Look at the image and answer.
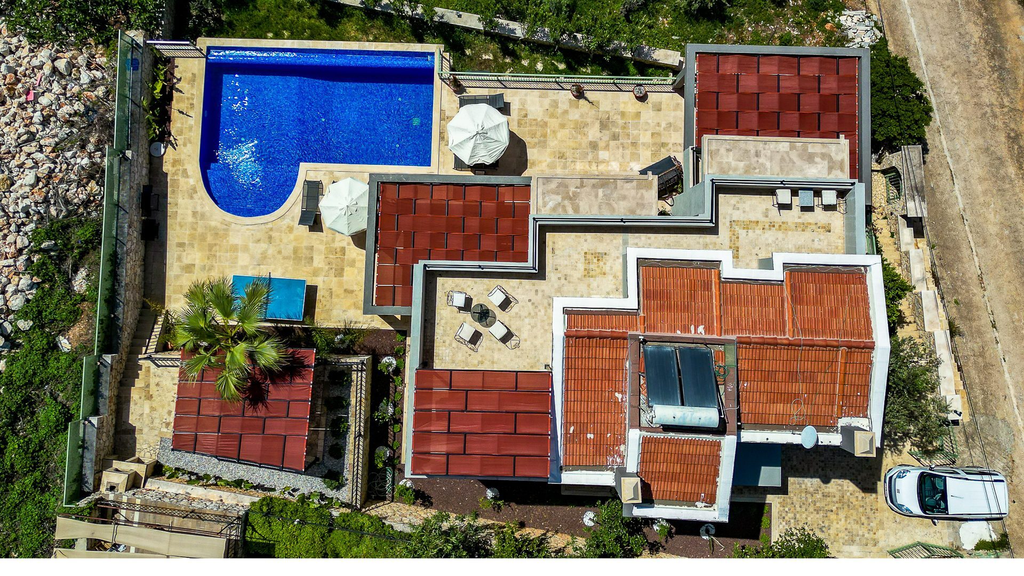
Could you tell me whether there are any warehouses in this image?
No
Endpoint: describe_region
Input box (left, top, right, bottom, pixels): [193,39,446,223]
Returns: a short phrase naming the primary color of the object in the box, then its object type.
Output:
blue swimming pool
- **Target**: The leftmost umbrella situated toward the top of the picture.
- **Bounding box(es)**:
[318,177,369,236]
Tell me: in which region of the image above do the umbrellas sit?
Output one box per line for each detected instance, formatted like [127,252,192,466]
[318,177,369,236]
[448,105,508,164]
